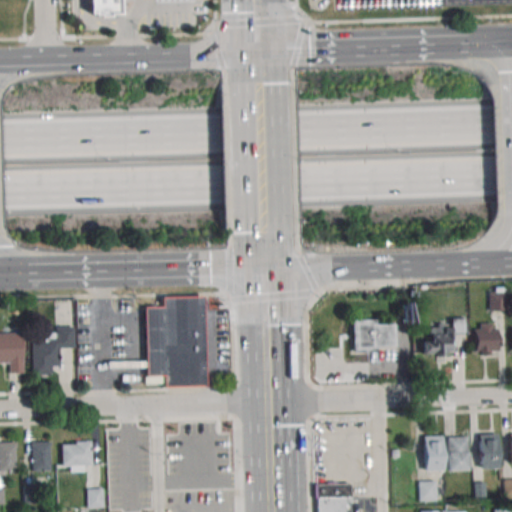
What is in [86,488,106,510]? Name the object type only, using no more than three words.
building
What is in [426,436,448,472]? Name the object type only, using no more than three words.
house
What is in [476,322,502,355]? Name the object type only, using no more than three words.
house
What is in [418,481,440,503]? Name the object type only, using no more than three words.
building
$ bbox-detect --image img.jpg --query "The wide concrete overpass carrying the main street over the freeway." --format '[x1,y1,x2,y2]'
[221,68,303,247]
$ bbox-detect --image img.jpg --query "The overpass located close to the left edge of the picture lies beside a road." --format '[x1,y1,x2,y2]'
[0,74,62,247]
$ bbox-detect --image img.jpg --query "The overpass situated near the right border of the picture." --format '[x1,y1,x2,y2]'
[448,62,512,249]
